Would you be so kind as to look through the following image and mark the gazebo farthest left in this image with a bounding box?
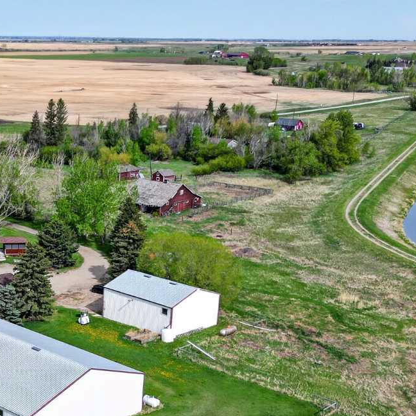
[0,235,30,255]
